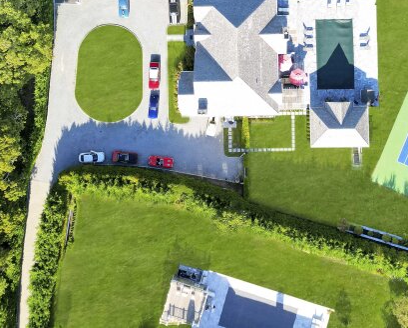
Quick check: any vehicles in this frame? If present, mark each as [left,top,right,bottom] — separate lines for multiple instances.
[147,91,159,119]
[147,157,175,169]
[110,151,139,164]
[147,61,159,90]
[168,0,179,25]
[77,149,105,164]
[117,0,128,19]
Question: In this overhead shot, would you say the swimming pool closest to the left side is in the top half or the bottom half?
bottom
